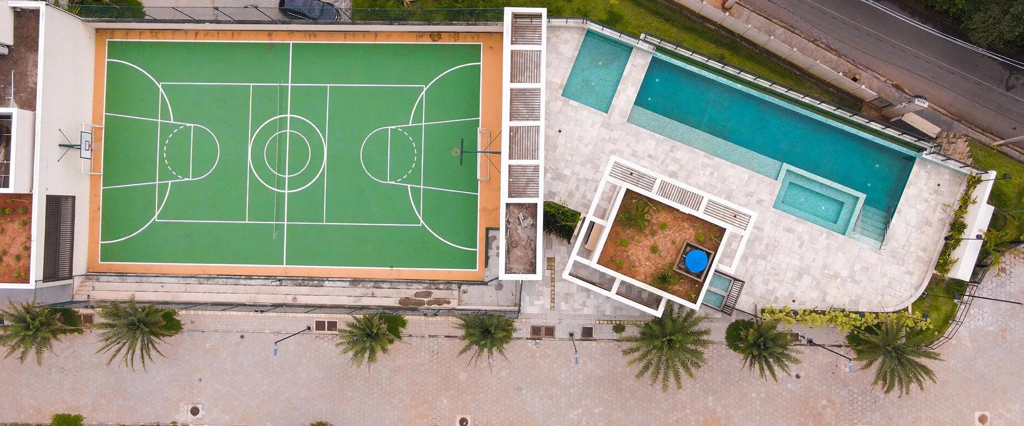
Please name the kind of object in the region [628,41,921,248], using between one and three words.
swimming pool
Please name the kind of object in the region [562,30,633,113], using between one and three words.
swimming pool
